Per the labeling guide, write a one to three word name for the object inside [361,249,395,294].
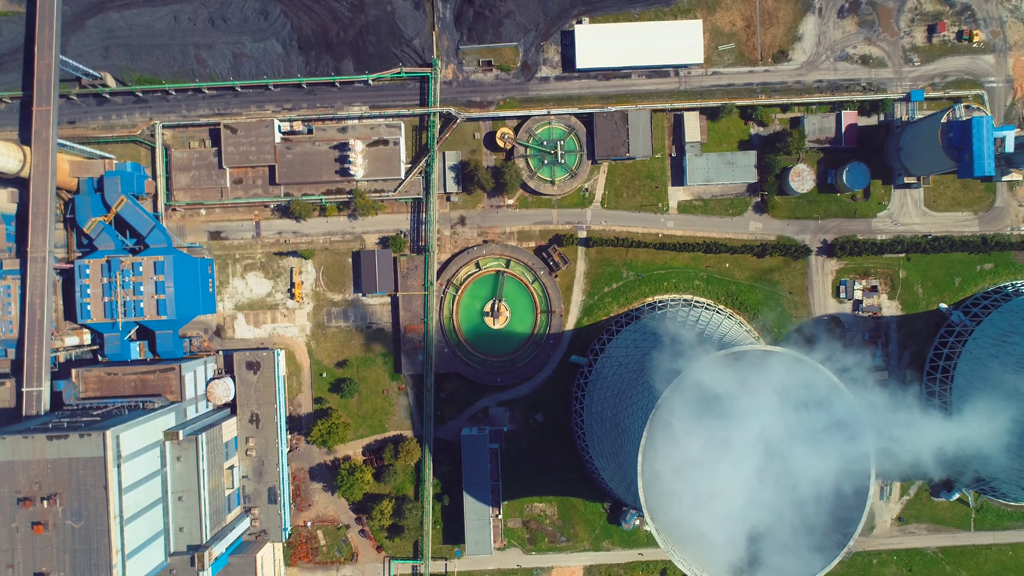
shed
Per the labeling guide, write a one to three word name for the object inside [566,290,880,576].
cooling tower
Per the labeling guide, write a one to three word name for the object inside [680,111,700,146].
building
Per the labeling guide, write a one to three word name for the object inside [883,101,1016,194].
silo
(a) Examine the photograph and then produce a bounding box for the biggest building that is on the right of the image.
[574,18,704,72]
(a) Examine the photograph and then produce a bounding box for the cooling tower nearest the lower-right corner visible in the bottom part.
[918,272,1024,507]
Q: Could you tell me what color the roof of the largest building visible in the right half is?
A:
white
